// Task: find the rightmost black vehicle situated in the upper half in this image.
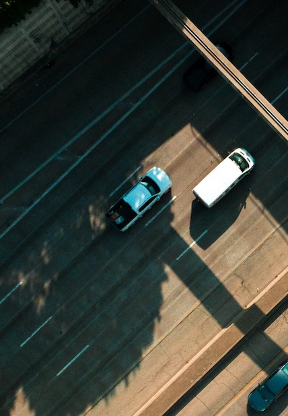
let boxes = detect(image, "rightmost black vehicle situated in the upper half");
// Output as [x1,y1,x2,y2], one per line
[180,41,234,94]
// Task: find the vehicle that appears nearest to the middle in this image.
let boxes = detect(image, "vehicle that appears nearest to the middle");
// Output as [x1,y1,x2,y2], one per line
[105,170,170,232]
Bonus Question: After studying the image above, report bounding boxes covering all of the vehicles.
[193,151,254,210]
[180,41,234,94]
[105,170,170,232]
[252,356,288,411]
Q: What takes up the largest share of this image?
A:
paved ground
